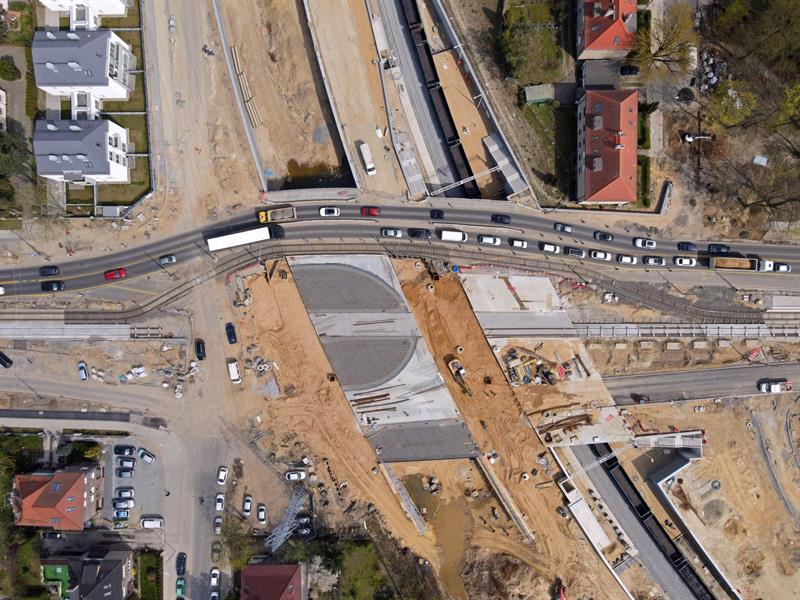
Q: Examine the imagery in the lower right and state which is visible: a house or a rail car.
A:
rail car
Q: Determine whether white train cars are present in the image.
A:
No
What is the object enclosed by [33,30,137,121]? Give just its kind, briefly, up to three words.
house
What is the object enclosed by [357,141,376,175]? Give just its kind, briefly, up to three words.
vehicle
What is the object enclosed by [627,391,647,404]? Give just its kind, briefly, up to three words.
vehicle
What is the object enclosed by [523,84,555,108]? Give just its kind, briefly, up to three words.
shed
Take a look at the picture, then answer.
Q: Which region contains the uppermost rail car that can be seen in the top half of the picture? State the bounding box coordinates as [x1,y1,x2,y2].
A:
[398,0,420,31]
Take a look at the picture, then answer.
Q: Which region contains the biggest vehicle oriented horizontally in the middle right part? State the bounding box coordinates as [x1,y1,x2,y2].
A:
[712,258,776,273]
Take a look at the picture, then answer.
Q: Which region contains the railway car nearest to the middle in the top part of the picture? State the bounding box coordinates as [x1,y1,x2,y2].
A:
[449,142,479,197]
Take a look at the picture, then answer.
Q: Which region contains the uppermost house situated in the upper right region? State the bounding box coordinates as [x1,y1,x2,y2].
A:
[578,0,640,65]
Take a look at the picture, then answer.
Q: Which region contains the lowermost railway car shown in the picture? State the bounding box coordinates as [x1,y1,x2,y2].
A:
[677,559,720,600]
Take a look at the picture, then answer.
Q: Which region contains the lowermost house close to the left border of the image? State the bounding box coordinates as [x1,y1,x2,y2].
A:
[38,538,138,600]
